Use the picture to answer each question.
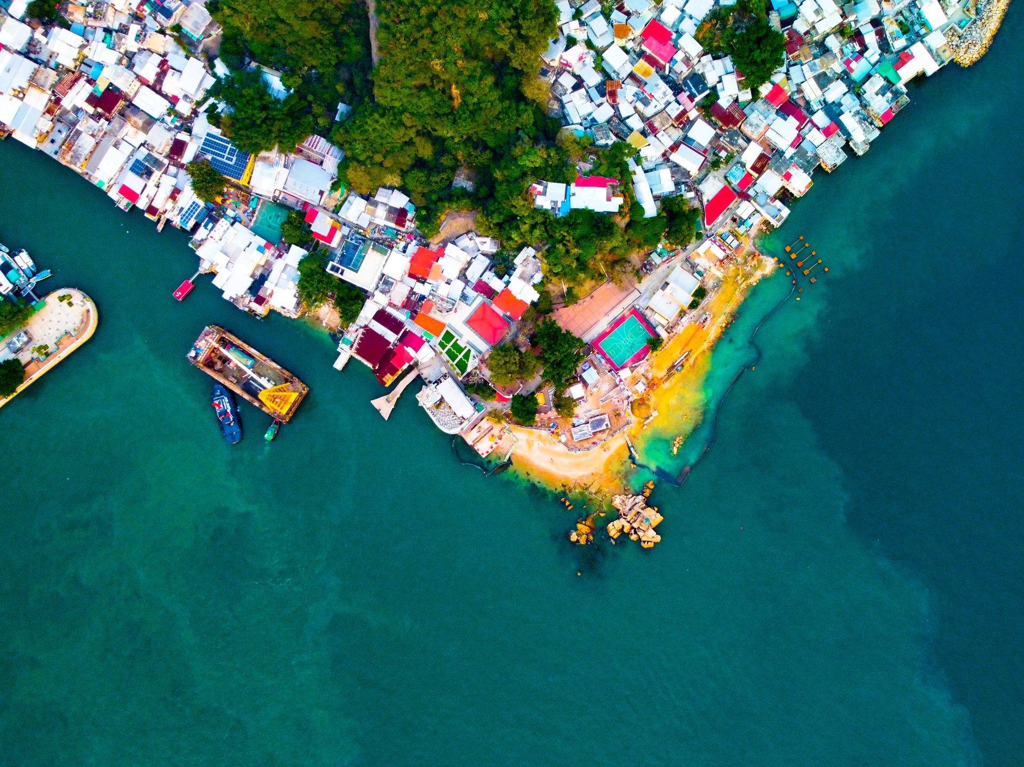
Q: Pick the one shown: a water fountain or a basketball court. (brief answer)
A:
basketball court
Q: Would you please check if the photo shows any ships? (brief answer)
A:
Yes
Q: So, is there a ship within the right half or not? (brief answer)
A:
No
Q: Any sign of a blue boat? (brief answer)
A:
Yes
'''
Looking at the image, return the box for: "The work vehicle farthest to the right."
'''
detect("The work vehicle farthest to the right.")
[749,247,762,267]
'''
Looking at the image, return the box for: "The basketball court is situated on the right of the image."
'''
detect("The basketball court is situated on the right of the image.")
[591,308,655,372]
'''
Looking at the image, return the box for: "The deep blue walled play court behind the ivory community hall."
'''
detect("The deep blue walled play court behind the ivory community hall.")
[336,239,372,272]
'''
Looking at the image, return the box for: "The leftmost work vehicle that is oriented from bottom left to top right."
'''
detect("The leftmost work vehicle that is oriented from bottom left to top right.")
[640,376,661,398]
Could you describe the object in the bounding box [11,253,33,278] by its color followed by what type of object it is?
white boat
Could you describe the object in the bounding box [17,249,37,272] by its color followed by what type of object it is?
white boat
